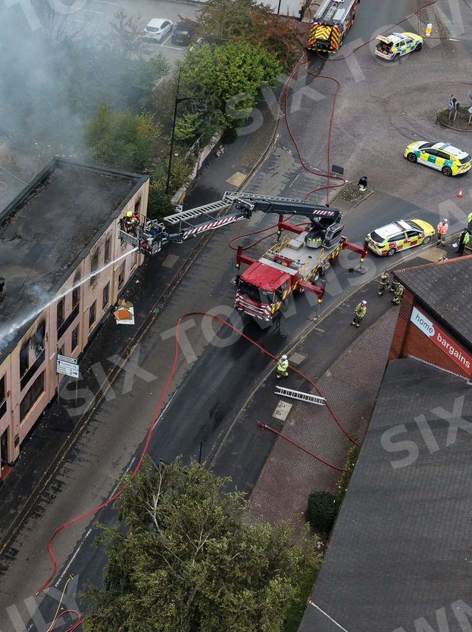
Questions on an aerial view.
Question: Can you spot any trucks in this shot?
Yes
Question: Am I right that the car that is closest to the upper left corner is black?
No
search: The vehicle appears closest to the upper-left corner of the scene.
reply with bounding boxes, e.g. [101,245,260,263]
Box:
[136,14,174,41]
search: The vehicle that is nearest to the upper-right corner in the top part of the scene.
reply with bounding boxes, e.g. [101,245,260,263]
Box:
[375,30,427,61]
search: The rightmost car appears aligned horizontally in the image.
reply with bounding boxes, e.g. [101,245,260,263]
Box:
[402,139,472,177]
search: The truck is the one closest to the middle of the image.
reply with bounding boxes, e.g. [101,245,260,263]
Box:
[124,185,368,327]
